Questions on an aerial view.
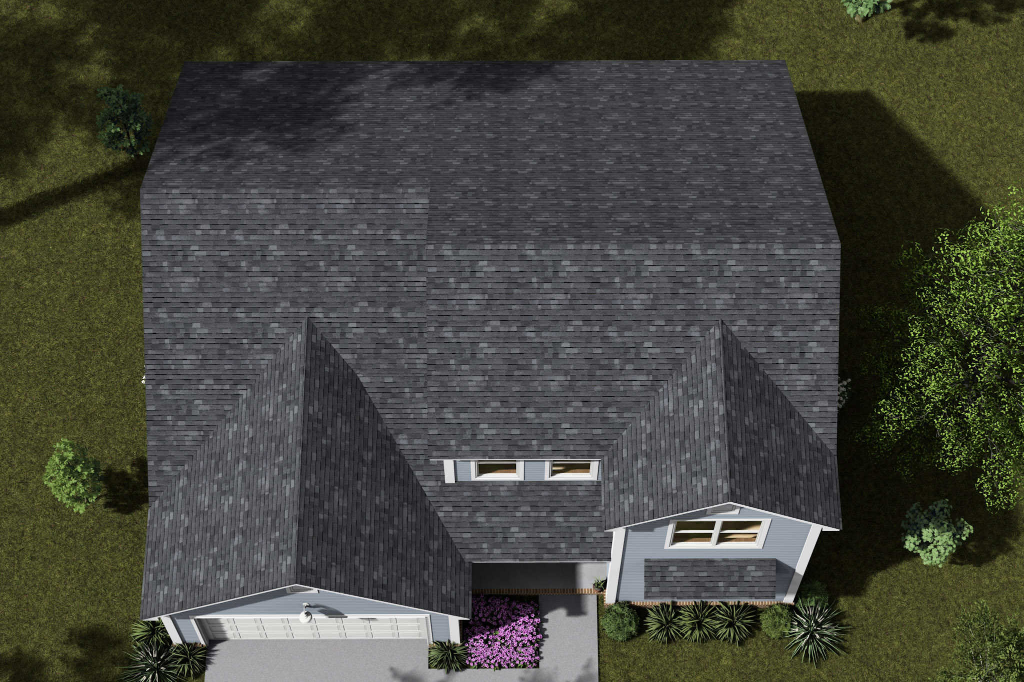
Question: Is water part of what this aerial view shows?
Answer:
No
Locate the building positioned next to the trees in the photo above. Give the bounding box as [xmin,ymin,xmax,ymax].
[140,59,842,649]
